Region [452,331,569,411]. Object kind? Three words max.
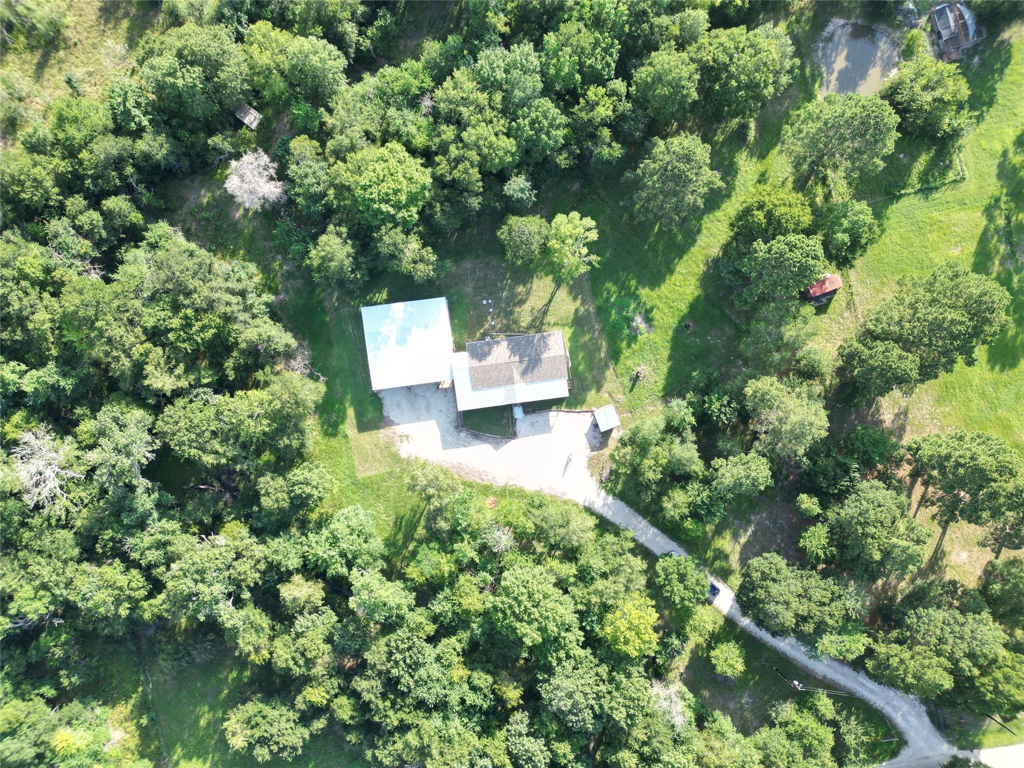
house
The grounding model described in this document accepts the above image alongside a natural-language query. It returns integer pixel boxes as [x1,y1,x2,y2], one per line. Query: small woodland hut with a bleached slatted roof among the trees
[234,104,267,133]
